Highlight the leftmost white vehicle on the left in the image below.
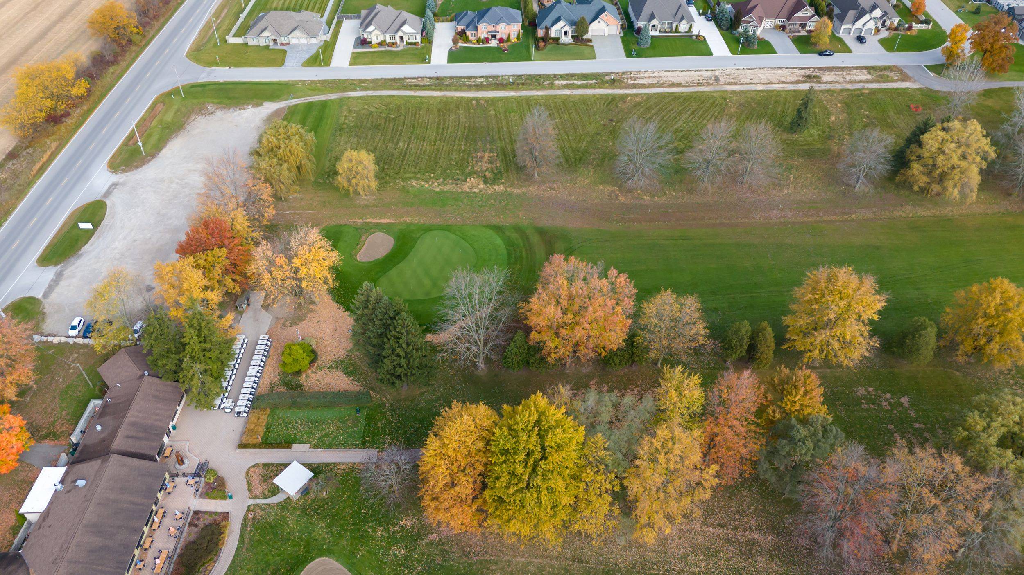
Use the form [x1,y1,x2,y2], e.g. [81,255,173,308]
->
[67,316,84,336]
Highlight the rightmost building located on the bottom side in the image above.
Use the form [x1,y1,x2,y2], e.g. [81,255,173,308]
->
[272,461,319,508]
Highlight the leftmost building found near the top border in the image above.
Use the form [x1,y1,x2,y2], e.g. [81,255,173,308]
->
[243,9,327,46]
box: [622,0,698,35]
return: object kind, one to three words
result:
house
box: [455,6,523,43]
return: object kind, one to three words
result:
house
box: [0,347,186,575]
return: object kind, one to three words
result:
building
